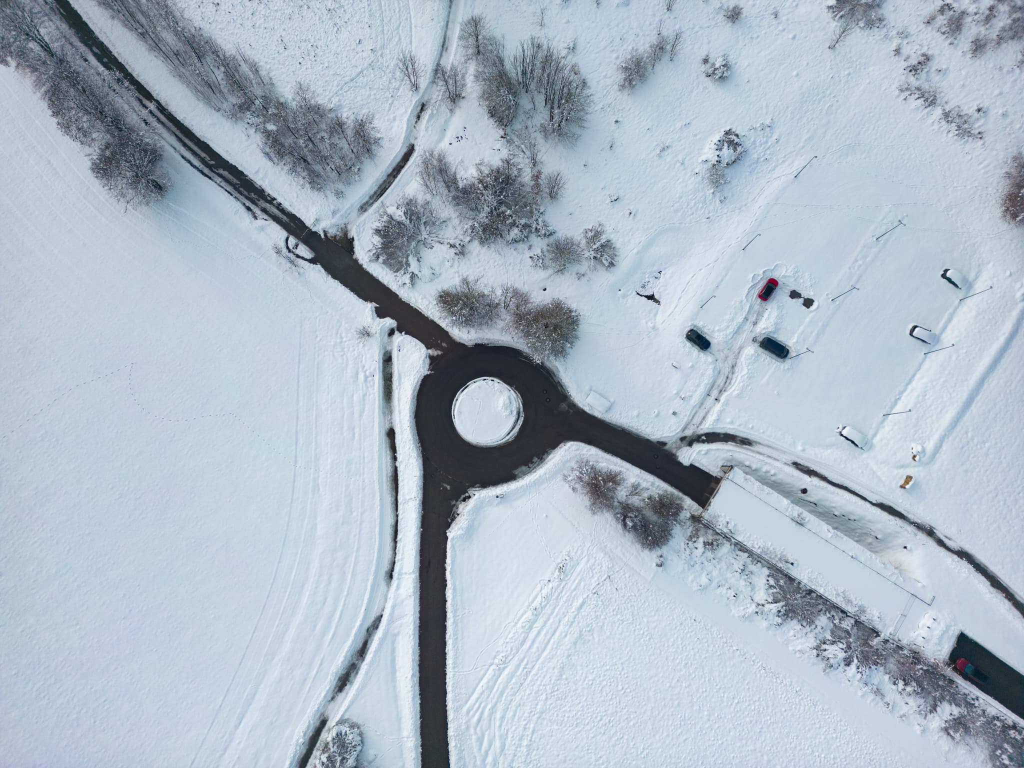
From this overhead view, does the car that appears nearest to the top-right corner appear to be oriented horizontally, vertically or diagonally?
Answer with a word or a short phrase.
diagonally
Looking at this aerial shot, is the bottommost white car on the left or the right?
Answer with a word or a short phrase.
right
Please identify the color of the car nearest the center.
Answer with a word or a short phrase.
black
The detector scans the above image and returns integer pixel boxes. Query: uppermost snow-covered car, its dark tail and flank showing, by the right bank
[939,267,969,293]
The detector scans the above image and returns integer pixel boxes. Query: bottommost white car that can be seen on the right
[839,424,872,451]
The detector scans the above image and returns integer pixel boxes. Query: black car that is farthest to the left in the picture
[685,329,712,350]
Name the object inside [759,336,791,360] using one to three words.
vehicle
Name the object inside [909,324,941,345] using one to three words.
car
